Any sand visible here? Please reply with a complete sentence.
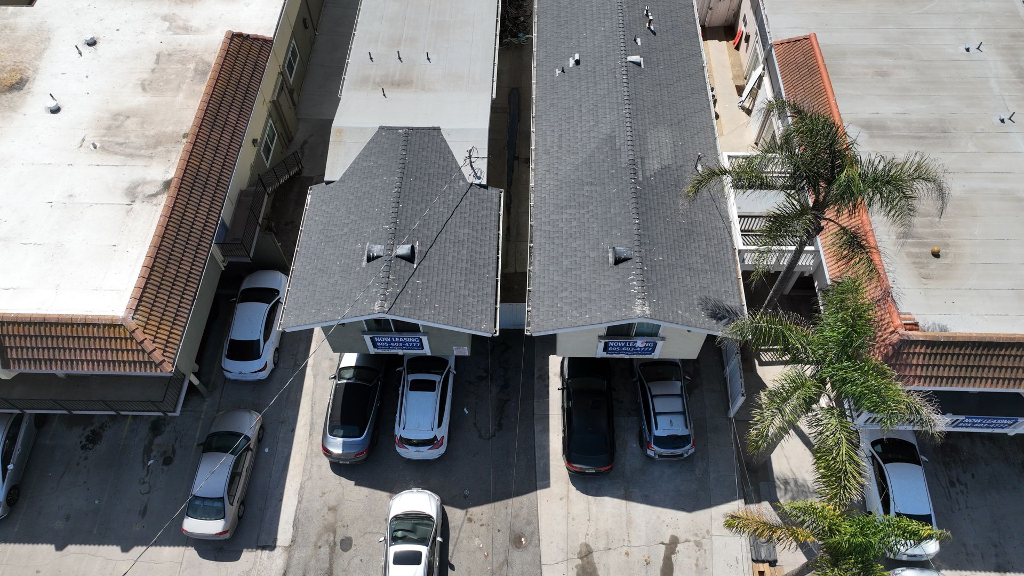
No, there is no sand in the image.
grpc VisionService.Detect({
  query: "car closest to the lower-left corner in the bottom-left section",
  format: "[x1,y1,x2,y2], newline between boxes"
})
[0,411,43,514]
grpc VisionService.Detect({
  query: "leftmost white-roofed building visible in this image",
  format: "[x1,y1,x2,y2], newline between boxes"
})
[0,0,326,416]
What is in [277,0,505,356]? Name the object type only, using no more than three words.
building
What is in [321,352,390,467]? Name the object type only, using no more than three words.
car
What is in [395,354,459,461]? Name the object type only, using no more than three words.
car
